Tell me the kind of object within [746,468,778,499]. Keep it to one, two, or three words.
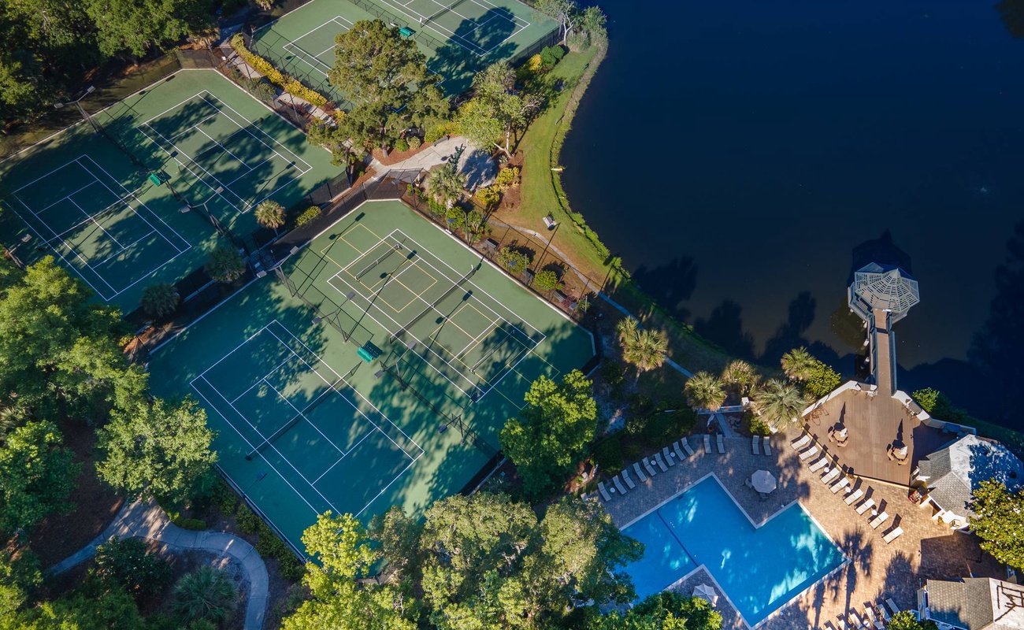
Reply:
umbrella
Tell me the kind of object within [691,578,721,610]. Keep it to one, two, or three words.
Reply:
umbrella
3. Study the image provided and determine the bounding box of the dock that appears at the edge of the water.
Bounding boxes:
[869,311,899,399]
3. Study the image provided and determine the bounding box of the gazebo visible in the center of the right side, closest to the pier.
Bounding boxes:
[838,261,920,333]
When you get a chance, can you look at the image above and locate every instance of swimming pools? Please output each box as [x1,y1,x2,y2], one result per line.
[614,468,860,630]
